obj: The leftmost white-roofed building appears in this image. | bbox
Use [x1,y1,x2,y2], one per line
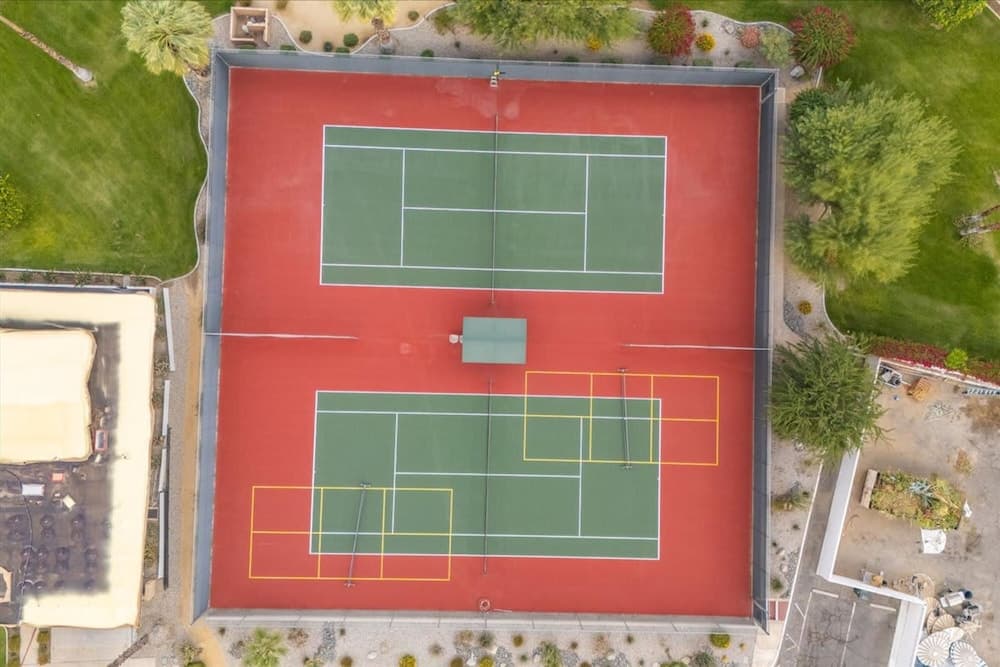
[0,290,159,632]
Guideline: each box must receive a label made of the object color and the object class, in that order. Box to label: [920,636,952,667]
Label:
white umbrella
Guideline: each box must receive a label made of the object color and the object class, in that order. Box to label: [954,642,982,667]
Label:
white umbrella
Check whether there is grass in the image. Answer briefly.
Yes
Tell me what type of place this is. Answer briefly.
sports ground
